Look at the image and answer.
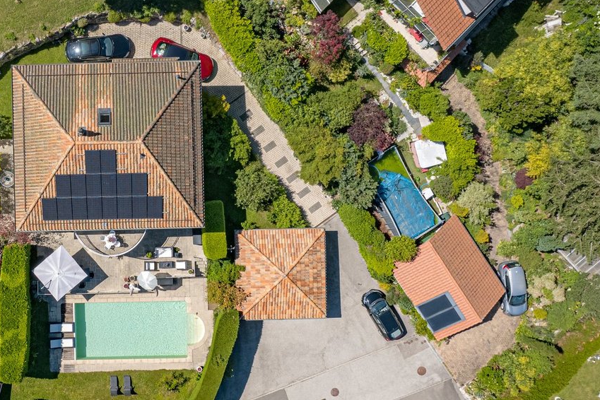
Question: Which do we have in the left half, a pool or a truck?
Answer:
pool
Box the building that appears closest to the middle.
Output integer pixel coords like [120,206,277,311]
[234,228,329,322]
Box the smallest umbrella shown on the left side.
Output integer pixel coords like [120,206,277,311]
[138,270,157,288]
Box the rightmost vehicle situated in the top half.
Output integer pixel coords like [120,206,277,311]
[150,38,214,78]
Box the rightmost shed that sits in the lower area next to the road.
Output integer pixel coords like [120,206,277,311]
[387,217,506,340]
